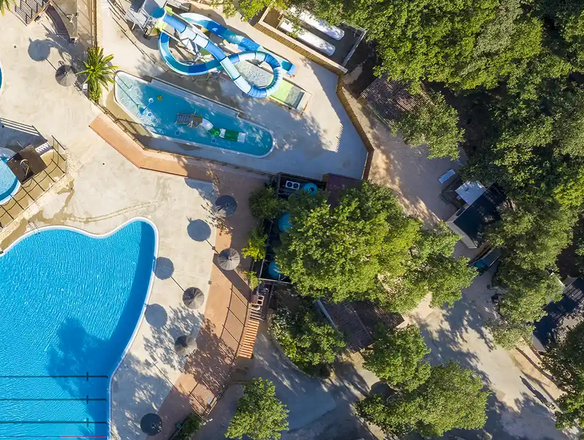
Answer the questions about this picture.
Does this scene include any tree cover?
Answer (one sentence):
Yes, tree cover can be seen from above here.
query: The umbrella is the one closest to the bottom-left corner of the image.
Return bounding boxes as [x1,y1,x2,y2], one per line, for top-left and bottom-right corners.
[139,412,162,435]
